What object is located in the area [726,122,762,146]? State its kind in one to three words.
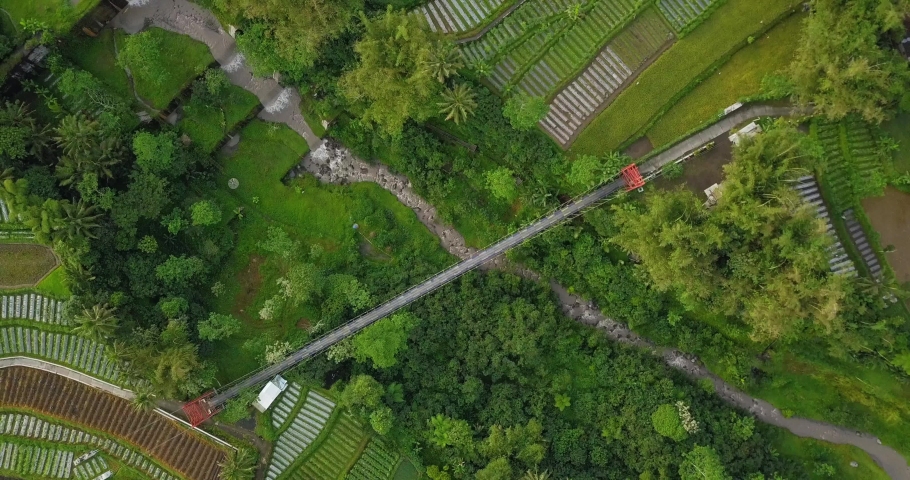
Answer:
shed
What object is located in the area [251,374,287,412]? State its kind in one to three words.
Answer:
shed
